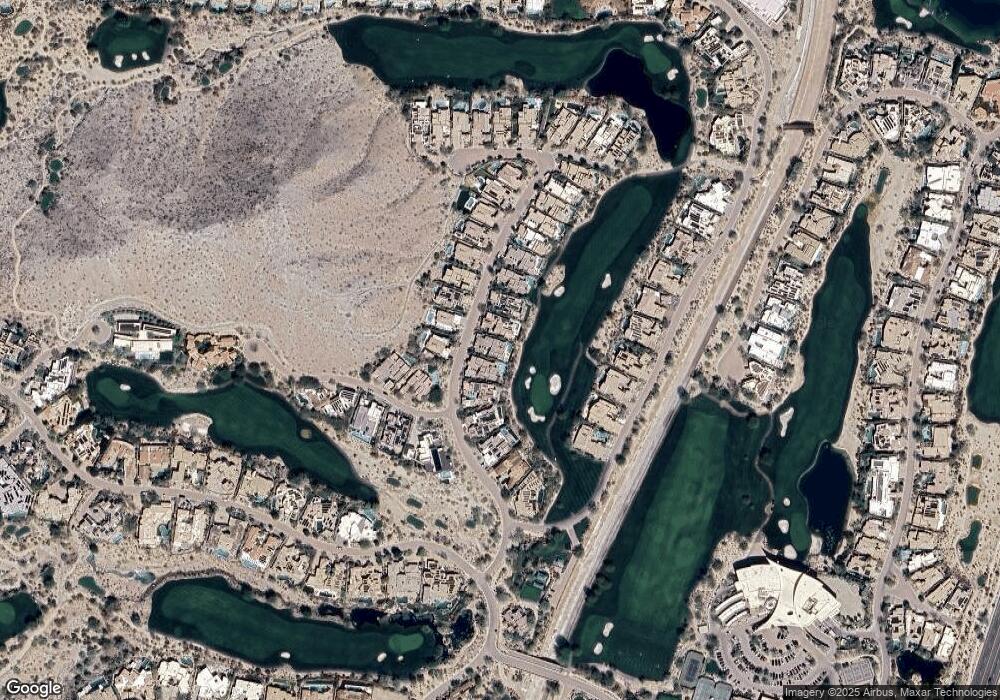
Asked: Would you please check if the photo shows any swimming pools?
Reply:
Yes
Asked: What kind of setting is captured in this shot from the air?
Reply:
residential area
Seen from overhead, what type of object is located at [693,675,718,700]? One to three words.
tennis court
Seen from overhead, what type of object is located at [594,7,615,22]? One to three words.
swimming pool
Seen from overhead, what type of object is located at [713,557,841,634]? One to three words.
building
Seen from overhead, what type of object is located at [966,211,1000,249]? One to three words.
house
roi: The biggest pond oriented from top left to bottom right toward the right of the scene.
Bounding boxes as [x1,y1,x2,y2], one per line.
[587,48,690,162]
